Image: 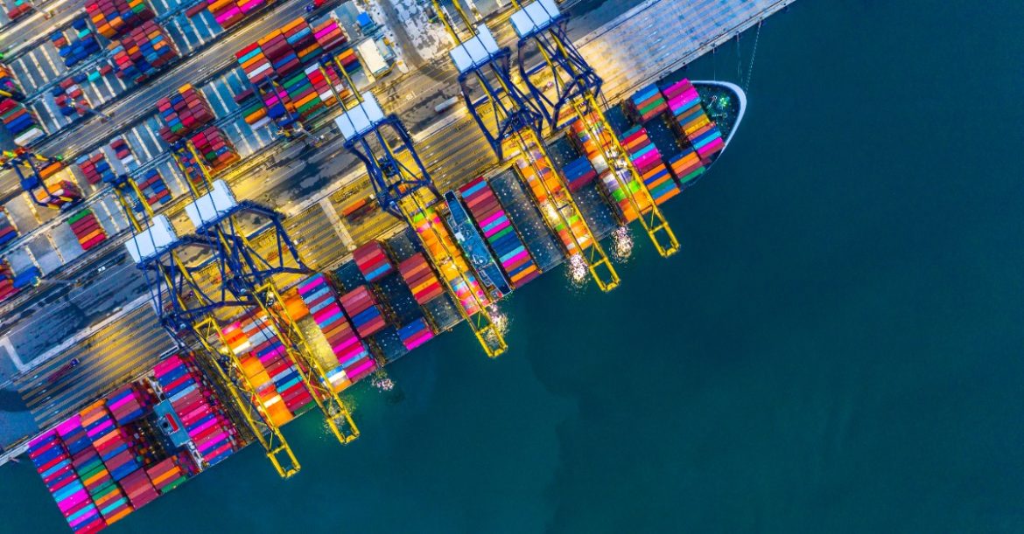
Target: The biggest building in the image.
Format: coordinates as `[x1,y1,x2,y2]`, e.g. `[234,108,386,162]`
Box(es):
[357,39,390,78]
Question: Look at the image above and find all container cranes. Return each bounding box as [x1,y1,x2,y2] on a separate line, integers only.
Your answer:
[429,0,623,295]
[251,75,317,143]
[109,165,305,482]
[314,45,510,361]
[166,132,363,448]
[510,0,683,259]
[12,152,96,216]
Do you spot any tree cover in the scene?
No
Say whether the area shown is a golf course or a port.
port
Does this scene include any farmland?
No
